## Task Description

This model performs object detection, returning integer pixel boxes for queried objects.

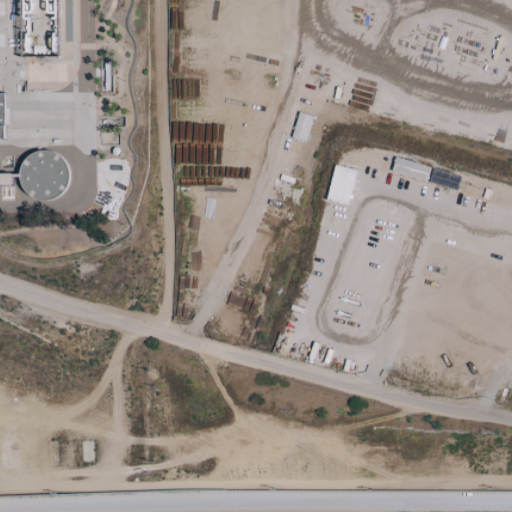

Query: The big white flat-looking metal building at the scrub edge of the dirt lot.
[328,164,358,205]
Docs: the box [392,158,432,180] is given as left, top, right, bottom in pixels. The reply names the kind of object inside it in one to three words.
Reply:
building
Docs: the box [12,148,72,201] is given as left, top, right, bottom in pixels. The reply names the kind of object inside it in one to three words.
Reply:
water tank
